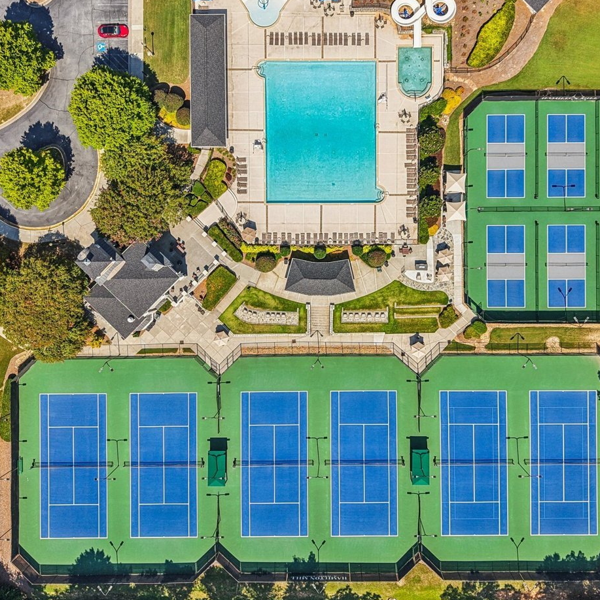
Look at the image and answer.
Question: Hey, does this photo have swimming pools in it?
Yes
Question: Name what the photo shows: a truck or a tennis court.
tennis court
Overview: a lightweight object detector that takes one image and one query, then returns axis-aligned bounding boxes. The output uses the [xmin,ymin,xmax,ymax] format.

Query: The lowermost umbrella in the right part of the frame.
[411,339,427,356]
